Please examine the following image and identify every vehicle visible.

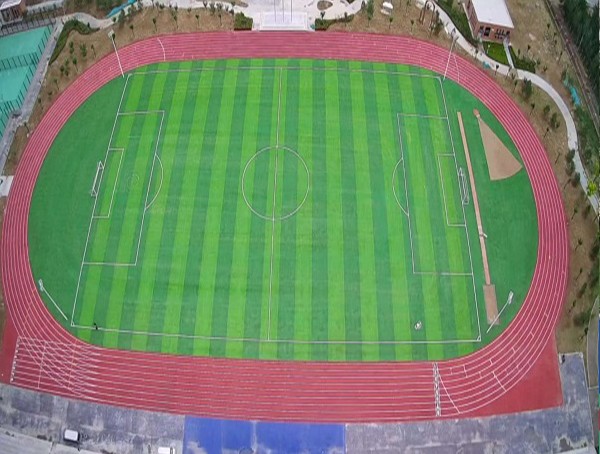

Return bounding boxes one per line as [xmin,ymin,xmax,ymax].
[155,447,179,454]
[63,430,83,445]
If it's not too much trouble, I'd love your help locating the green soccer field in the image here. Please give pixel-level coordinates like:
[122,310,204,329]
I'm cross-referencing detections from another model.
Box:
[28,60,538,362]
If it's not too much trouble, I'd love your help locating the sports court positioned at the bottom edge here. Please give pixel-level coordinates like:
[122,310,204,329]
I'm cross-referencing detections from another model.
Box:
[183,415,346,454]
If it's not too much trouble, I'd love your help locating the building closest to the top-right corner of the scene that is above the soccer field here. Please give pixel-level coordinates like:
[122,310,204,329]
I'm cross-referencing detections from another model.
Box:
[459,0,515,46]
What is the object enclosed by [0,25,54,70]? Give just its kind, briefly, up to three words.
sports court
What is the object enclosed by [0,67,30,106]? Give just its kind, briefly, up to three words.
sports court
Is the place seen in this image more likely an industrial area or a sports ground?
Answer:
sports ground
